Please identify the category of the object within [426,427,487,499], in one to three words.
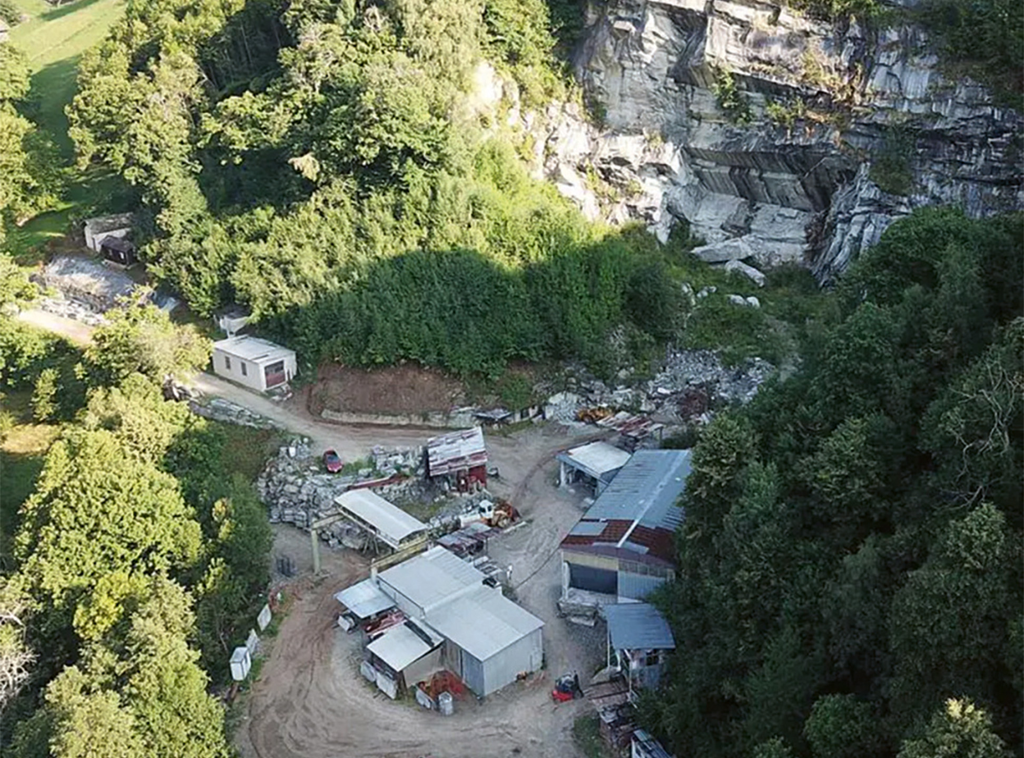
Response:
shed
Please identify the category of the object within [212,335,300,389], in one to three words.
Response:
building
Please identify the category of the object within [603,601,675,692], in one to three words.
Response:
shed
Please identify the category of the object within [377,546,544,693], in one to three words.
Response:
building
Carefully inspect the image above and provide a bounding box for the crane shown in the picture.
[309,490,444,614]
